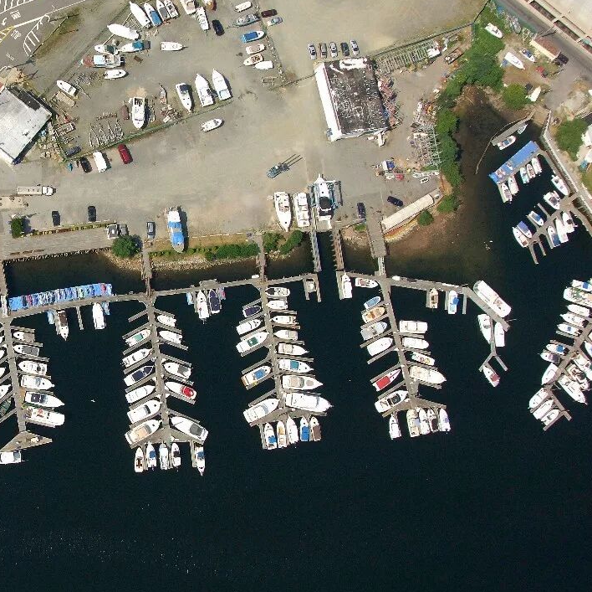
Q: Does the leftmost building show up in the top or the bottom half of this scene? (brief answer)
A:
top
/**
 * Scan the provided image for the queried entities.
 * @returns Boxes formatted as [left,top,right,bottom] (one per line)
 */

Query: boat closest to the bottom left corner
[0,451,24,464]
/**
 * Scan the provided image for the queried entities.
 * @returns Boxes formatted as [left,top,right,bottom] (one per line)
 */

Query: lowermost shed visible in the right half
[381,196,435,234]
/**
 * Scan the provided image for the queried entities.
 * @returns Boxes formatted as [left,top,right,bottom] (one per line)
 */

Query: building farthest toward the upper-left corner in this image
[0,87,51,163]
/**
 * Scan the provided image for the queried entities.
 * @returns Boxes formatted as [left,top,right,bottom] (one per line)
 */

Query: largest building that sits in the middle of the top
[313,59,389,144]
